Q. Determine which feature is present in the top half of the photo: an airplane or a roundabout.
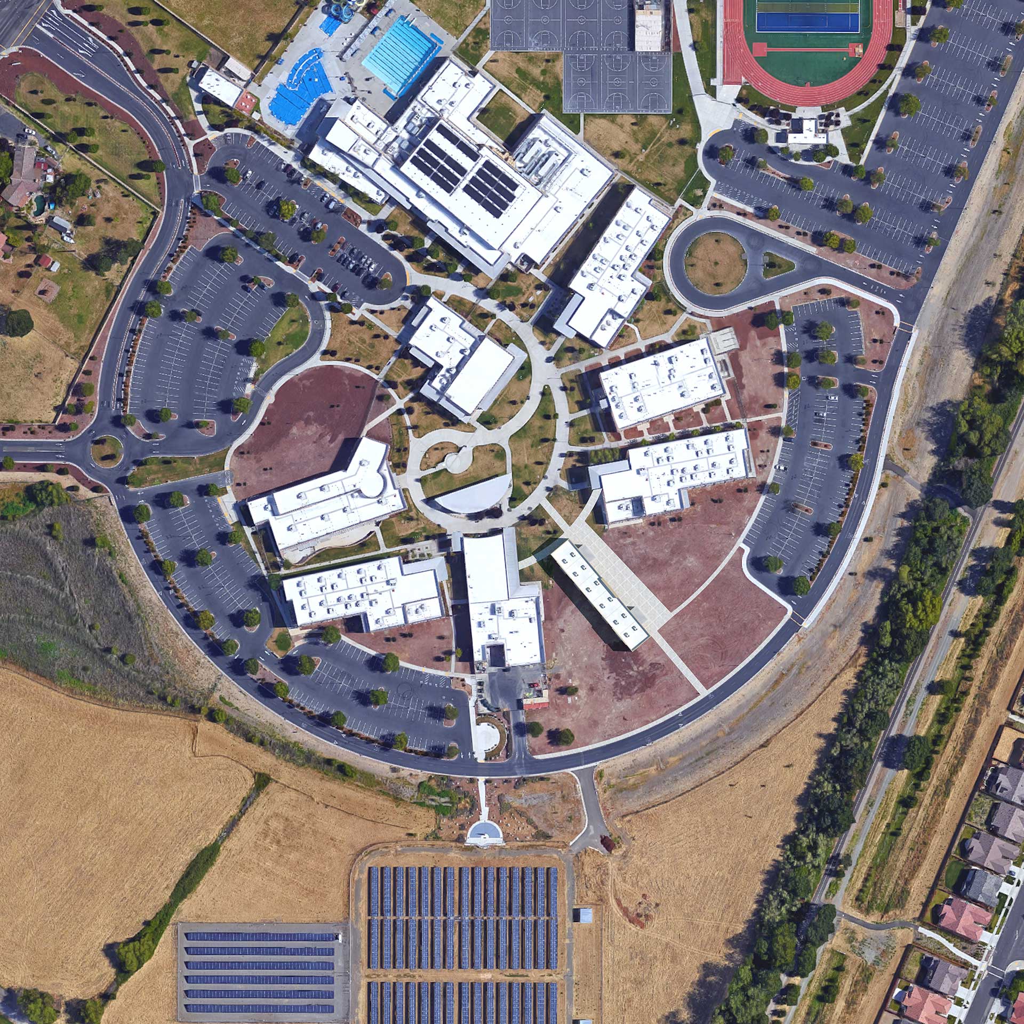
roundabout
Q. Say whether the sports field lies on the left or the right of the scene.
right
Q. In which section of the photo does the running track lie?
top right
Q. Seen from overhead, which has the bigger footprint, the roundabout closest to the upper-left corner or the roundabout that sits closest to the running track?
the roundabout that sits closest to the running track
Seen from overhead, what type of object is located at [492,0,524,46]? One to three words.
basketball court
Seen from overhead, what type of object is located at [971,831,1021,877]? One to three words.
house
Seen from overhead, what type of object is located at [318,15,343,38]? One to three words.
swimming pool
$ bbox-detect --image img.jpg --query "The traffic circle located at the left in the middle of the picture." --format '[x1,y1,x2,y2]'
[79,423,135,479]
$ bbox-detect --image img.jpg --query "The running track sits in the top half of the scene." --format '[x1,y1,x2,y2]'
[723,0,893,106]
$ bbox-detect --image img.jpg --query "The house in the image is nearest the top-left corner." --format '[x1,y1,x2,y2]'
[1,147,42,207]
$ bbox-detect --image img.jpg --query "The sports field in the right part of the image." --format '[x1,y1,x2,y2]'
[744,0,873,86]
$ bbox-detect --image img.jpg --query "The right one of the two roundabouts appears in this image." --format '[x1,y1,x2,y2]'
[672,218,763,310]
